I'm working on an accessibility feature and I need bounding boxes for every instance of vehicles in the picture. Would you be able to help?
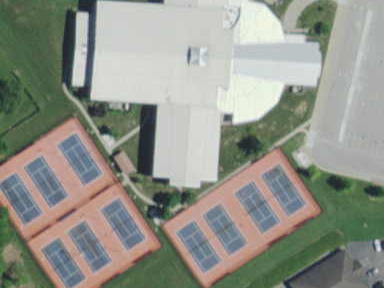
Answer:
[375,240,380,250]
[368,268,378,276]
